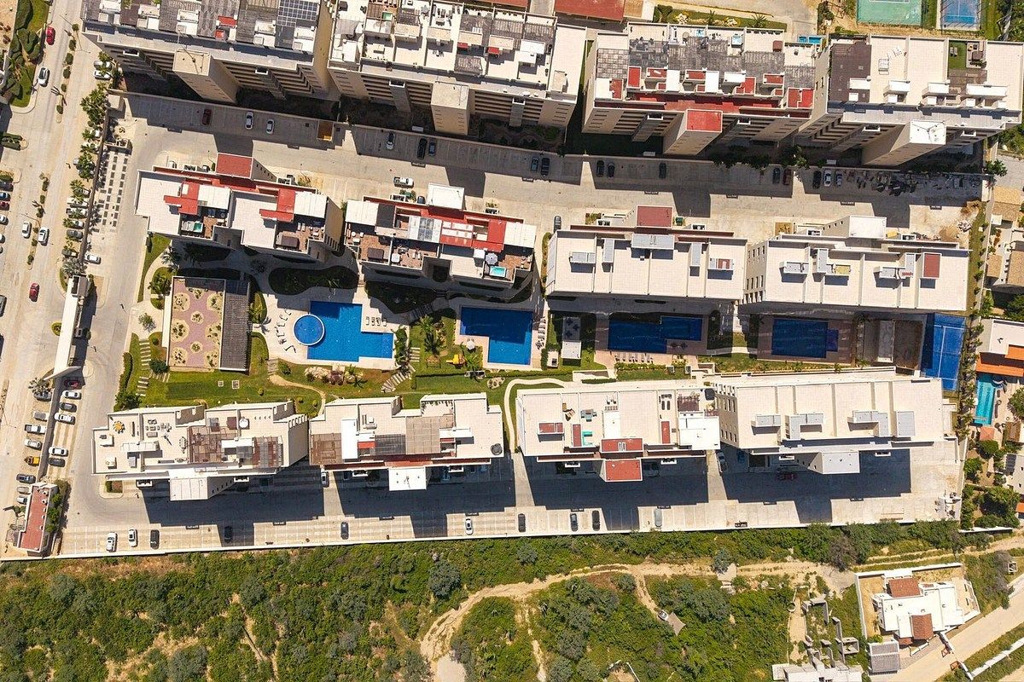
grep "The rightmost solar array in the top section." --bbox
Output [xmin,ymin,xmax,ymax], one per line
[417,217,434,240]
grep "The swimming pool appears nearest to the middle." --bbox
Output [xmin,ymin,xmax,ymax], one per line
[460,307,533,365]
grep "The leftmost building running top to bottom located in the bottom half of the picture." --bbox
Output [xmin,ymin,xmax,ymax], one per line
[18,481,65,552]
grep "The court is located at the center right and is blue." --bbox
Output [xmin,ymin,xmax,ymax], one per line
[920,313,966,390]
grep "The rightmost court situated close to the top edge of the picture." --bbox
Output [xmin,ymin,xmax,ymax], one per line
[937,0,981,30]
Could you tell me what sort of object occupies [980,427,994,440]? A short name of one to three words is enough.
umbrella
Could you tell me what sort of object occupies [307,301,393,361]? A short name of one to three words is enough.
swimming pool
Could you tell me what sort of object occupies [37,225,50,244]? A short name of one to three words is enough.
vehicle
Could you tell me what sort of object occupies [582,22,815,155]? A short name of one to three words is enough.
building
